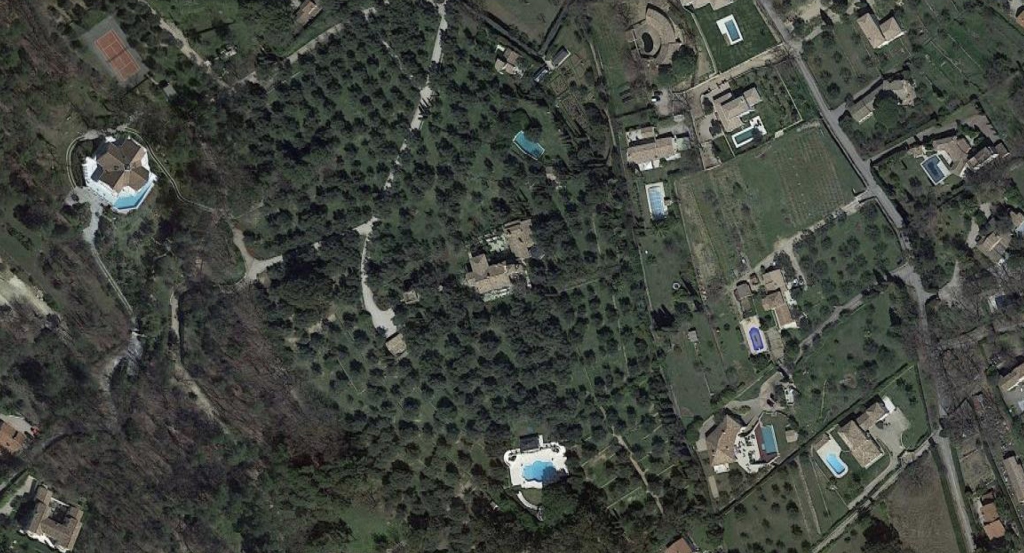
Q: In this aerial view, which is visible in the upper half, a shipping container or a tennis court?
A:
tennis court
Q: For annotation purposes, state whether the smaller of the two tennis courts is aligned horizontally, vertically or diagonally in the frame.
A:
diagonally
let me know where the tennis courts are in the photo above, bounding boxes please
[80,12,150,88]
[96,31,140,80]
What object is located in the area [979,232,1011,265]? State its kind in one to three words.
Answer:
house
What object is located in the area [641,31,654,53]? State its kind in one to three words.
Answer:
swimming pool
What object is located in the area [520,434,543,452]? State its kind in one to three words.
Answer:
building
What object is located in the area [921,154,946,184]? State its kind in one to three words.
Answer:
swimming pool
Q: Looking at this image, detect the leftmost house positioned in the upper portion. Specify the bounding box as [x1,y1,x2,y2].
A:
[97,139,149,194]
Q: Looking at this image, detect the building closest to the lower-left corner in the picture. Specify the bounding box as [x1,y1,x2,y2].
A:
[29,486,83,553]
